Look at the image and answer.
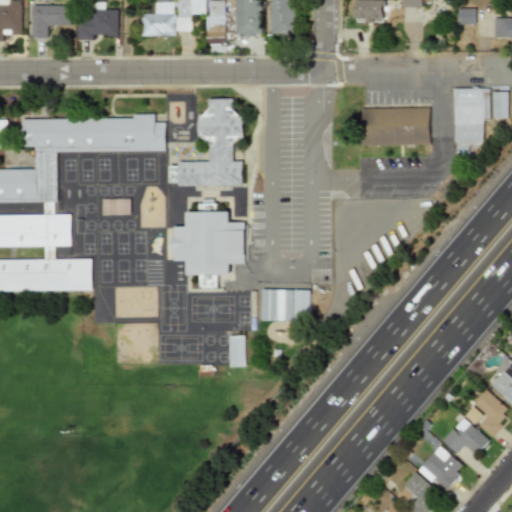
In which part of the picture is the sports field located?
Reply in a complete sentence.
The sports field is located in the bottom left region of the scene.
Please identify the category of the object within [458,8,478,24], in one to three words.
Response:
building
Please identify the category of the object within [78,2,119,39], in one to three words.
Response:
house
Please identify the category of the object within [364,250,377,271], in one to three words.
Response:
vehicle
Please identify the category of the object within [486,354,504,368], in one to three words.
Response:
swimming pool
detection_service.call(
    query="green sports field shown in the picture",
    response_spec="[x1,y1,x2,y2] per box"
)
[0,290,257,512]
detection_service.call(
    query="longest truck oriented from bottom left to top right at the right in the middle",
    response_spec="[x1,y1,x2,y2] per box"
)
[409,281,434,310]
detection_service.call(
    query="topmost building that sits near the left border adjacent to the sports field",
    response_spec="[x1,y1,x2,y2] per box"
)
[0,114,166,202]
